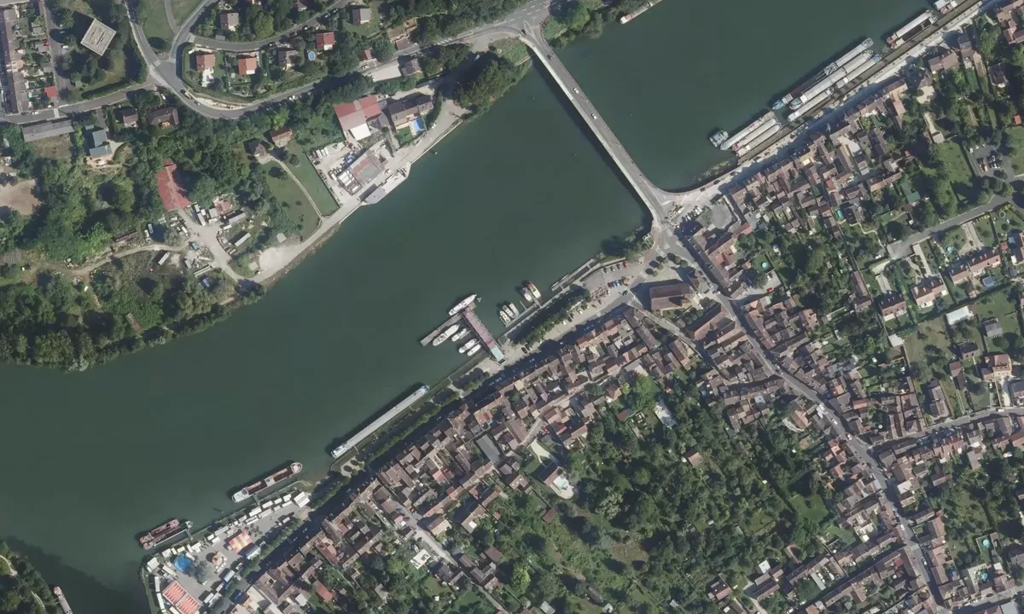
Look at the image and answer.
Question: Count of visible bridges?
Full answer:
I count just 1 bridge.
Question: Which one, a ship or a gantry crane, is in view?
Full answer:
Visible in the photo is a ship.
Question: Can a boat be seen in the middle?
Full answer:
Yes, a boat appears in the middle.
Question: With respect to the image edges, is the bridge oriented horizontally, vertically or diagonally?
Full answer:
In this picture, the bridge lies diagonally.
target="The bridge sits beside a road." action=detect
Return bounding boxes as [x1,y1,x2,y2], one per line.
[524,29,663,219]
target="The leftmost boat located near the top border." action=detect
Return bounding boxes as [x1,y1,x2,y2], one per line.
[621,0,663,23]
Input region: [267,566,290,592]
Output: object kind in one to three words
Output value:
house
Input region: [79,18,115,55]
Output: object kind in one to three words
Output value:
building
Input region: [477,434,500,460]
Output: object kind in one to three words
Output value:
house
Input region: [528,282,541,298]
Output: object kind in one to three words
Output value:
boat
